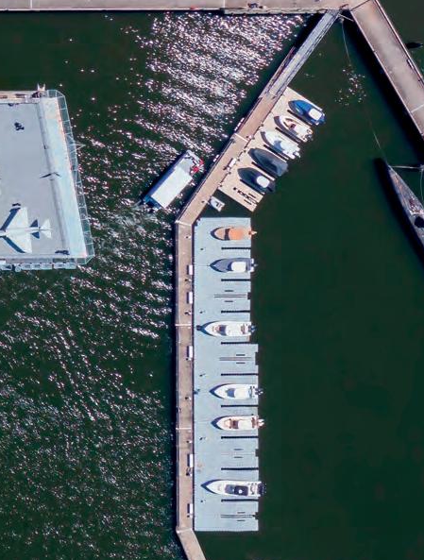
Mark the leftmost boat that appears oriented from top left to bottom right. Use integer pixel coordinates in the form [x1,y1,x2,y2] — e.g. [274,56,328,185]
[209,196,225,210]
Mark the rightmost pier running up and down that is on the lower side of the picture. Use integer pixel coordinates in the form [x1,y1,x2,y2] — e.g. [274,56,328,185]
[194,216,258,531]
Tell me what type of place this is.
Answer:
port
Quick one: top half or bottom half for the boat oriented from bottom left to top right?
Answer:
top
